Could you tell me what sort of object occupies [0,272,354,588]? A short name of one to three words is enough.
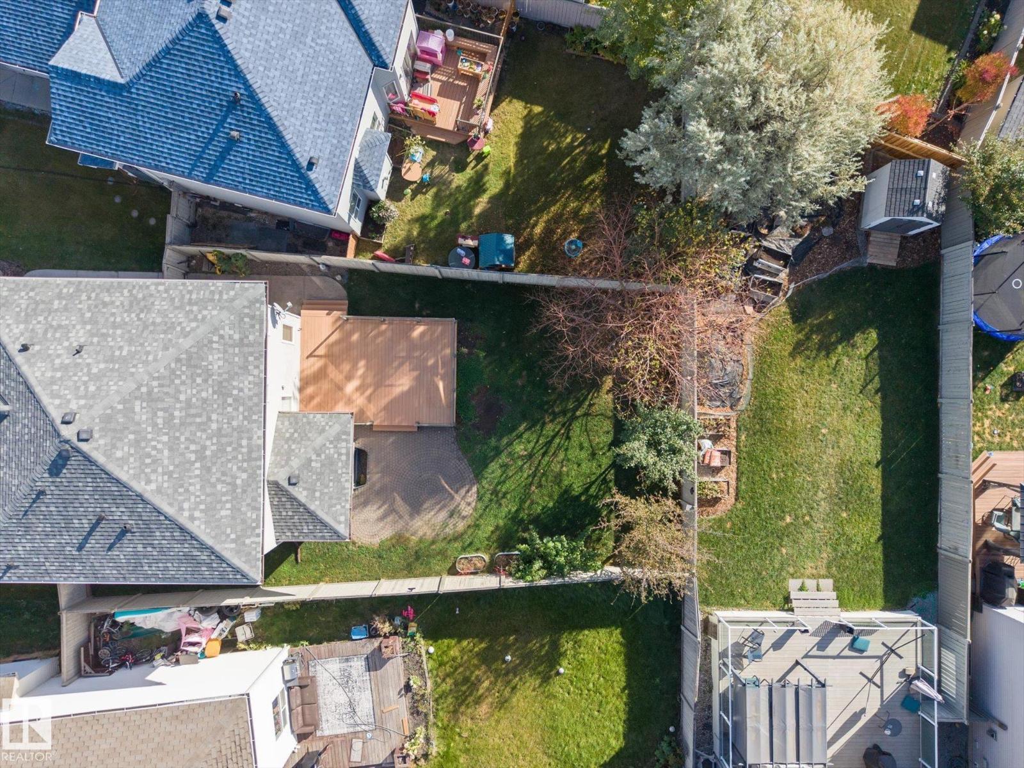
house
